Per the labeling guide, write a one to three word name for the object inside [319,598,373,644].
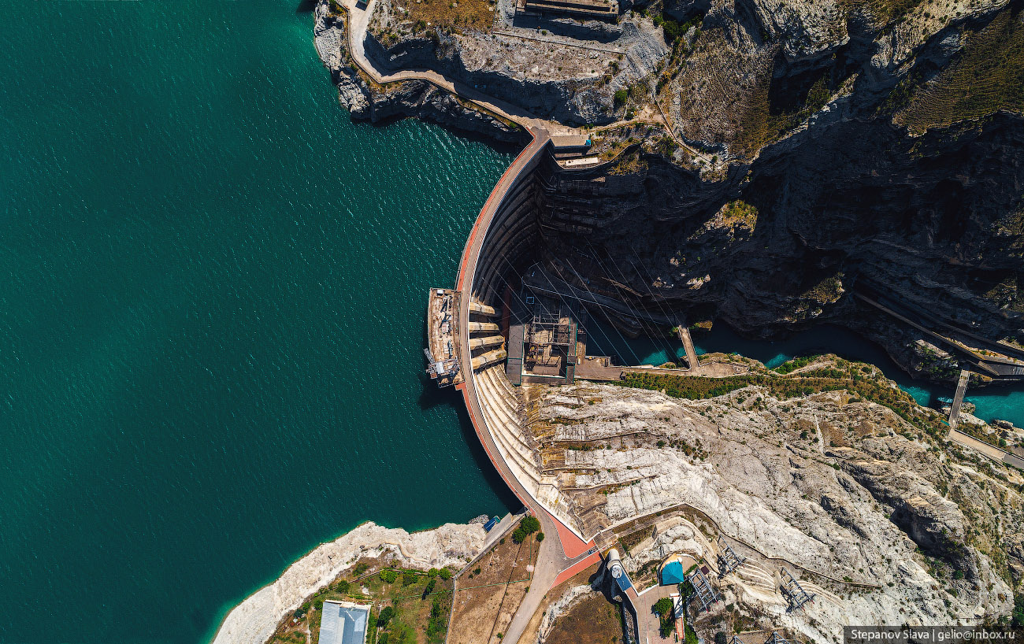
house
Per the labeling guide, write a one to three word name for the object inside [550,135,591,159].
building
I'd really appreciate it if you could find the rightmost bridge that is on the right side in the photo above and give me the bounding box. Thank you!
[942,369,969,430]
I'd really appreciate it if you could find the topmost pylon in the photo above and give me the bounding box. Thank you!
[708,530,745,575]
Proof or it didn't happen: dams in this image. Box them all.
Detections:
[453,134,587,545]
